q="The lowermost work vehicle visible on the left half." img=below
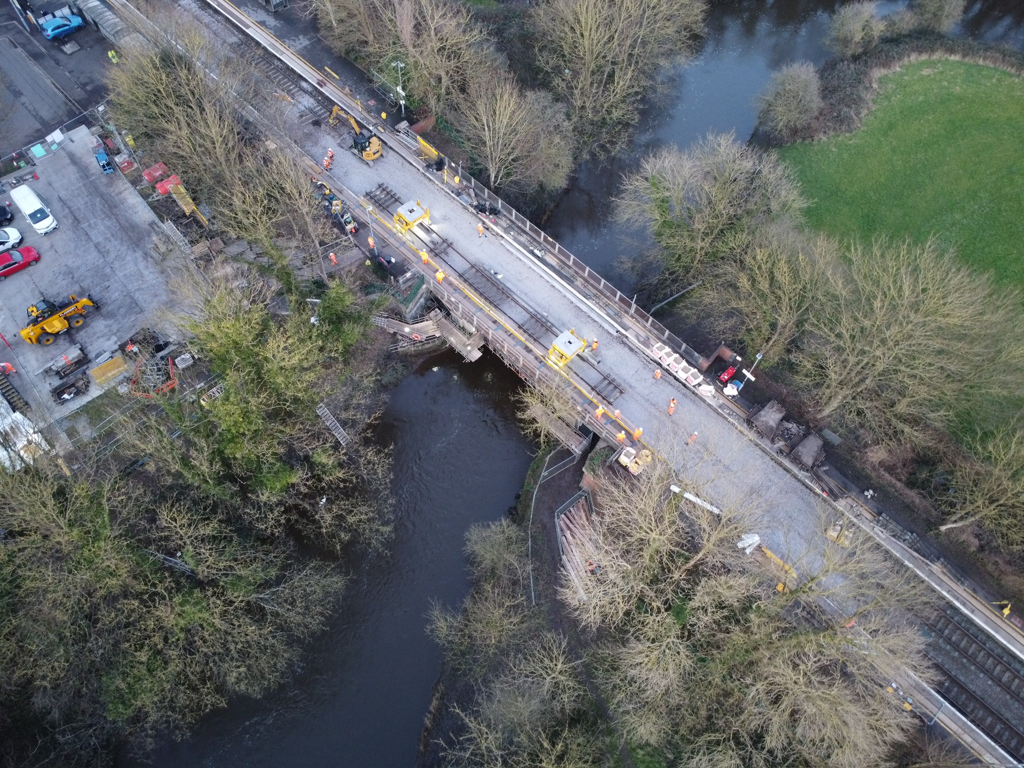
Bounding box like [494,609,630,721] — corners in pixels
[14,285,117,343]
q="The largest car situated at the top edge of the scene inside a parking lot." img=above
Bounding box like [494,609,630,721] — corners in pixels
[36,15,84,39]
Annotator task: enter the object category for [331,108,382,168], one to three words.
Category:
work vehicle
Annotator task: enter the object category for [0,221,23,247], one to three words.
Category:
car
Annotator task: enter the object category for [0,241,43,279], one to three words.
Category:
car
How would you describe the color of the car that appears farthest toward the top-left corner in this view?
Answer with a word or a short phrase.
blue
